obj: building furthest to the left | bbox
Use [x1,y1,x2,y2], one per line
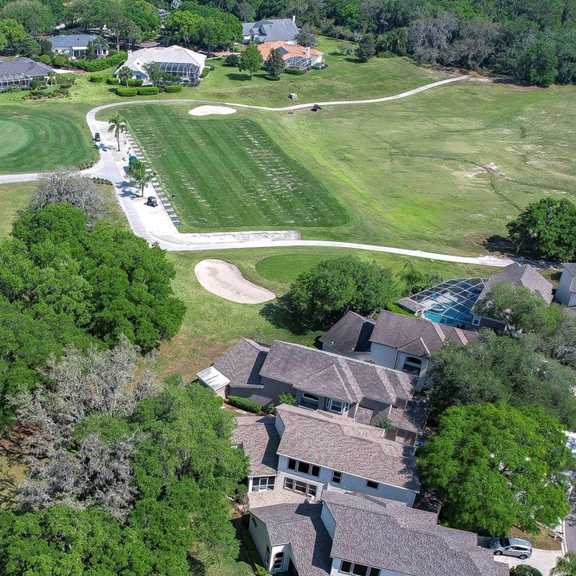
[0,55,60,84]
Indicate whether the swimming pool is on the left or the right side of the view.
right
